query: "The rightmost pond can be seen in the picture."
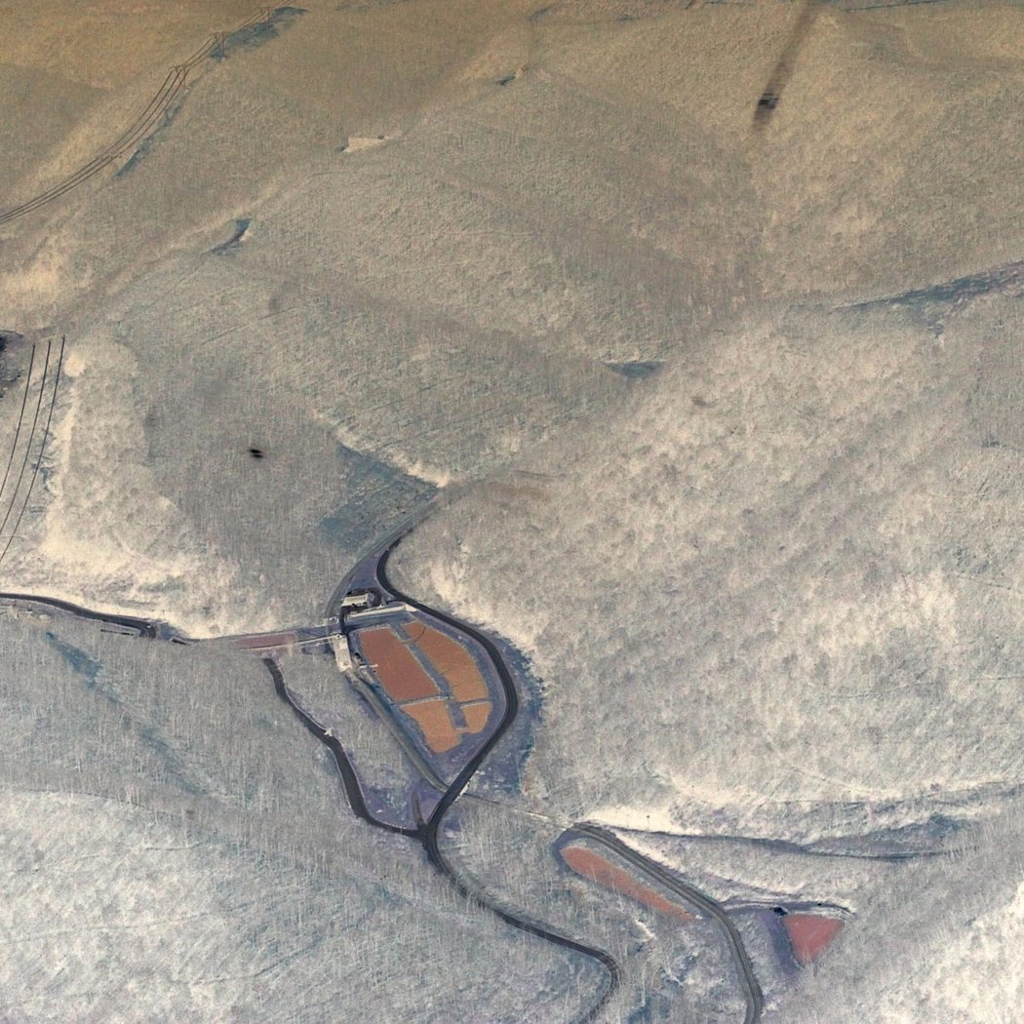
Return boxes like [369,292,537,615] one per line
[783,912,846,965]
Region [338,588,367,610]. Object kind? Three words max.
building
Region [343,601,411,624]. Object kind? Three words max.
shed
